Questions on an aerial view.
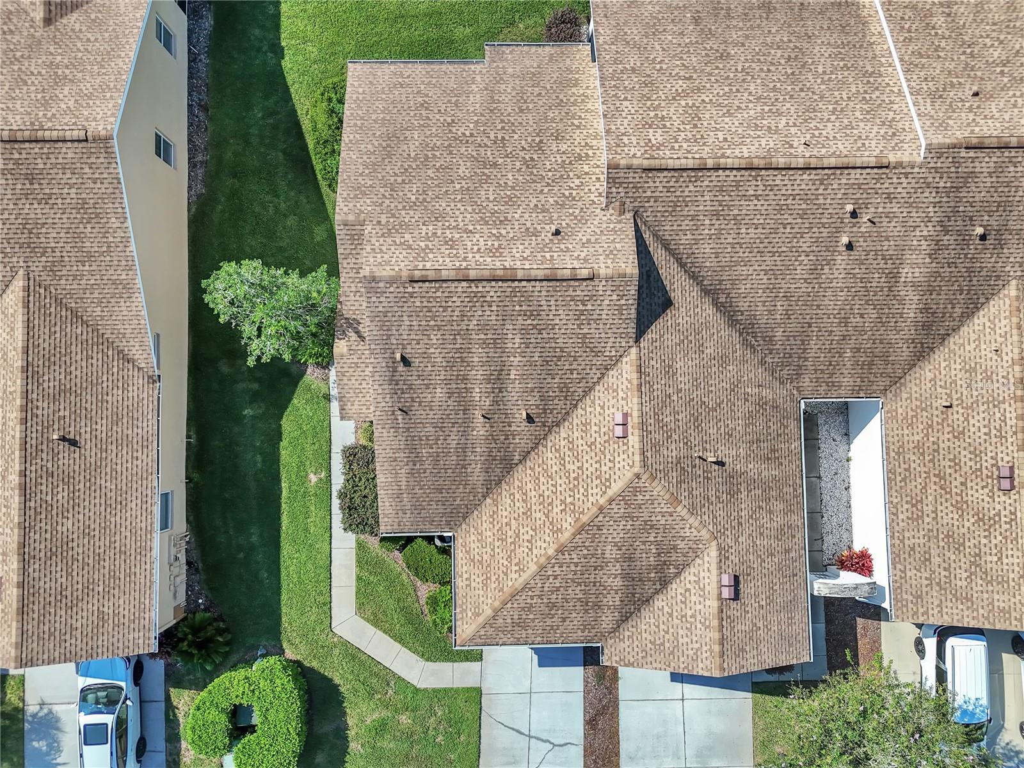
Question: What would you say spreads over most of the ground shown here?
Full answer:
For the most part, this view shows buildings.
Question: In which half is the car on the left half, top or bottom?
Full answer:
You can find the car on the left half in the bottom half.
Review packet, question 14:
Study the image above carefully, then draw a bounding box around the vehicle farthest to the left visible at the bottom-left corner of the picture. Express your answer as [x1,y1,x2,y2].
[67,656,145,768]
